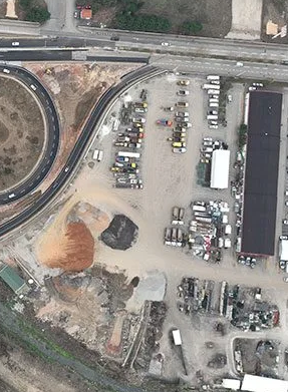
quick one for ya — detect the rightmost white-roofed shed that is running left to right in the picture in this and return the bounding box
[239,372,288,392]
